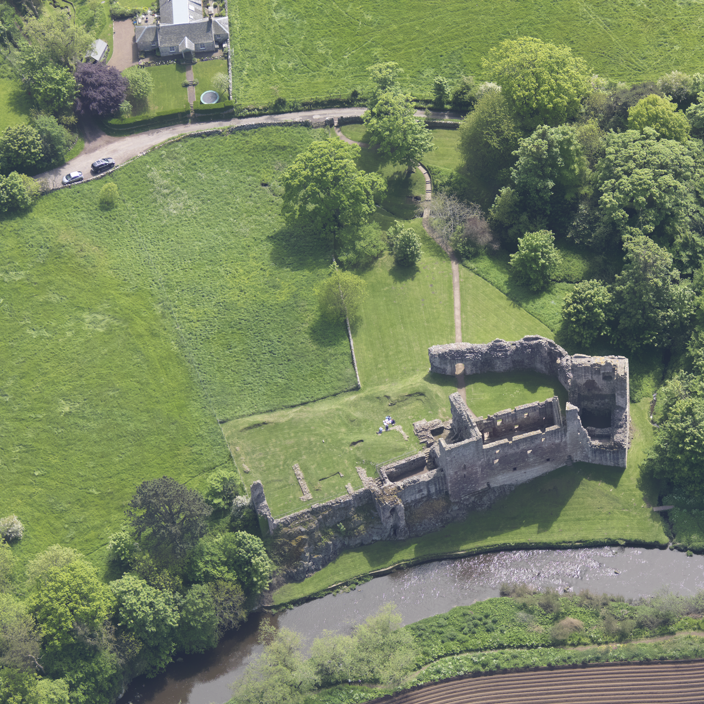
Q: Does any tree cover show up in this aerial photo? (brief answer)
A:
Yes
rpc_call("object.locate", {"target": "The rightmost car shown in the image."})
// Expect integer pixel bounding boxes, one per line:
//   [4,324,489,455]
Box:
[90,156,116,172]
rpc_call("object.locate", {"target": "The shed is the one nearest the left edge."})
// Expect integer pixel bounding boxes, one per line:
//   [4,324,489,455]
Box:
[85,34,106,60]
